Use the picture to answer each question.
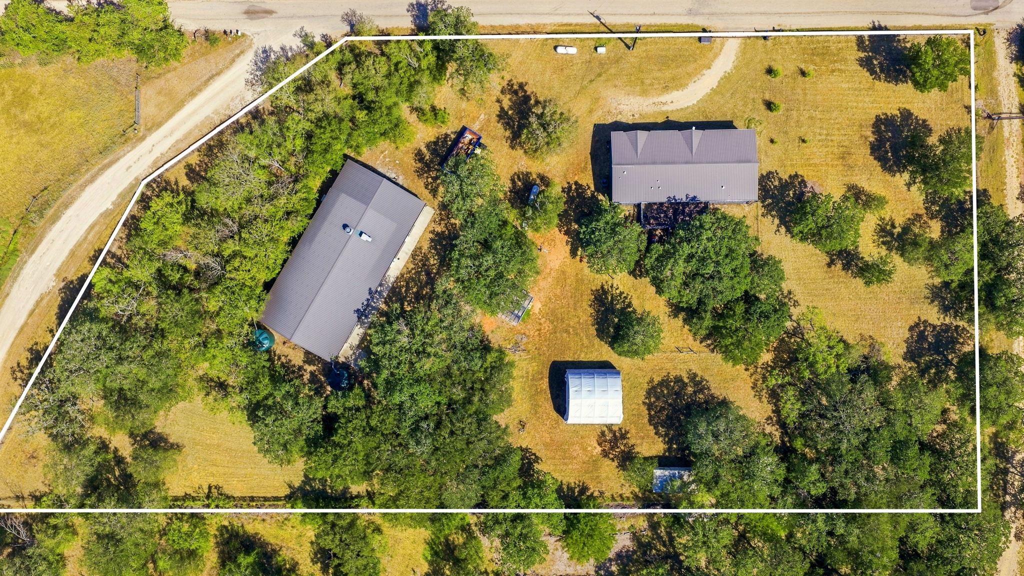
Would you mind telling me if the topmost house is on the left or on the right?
right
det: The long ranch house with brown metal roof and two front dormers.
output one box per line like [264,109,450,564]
[611,126,760,204]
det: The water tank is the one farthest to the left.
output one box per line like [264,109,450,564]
[253,328,280,352]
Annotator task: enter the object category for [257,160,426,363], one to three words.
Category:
building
